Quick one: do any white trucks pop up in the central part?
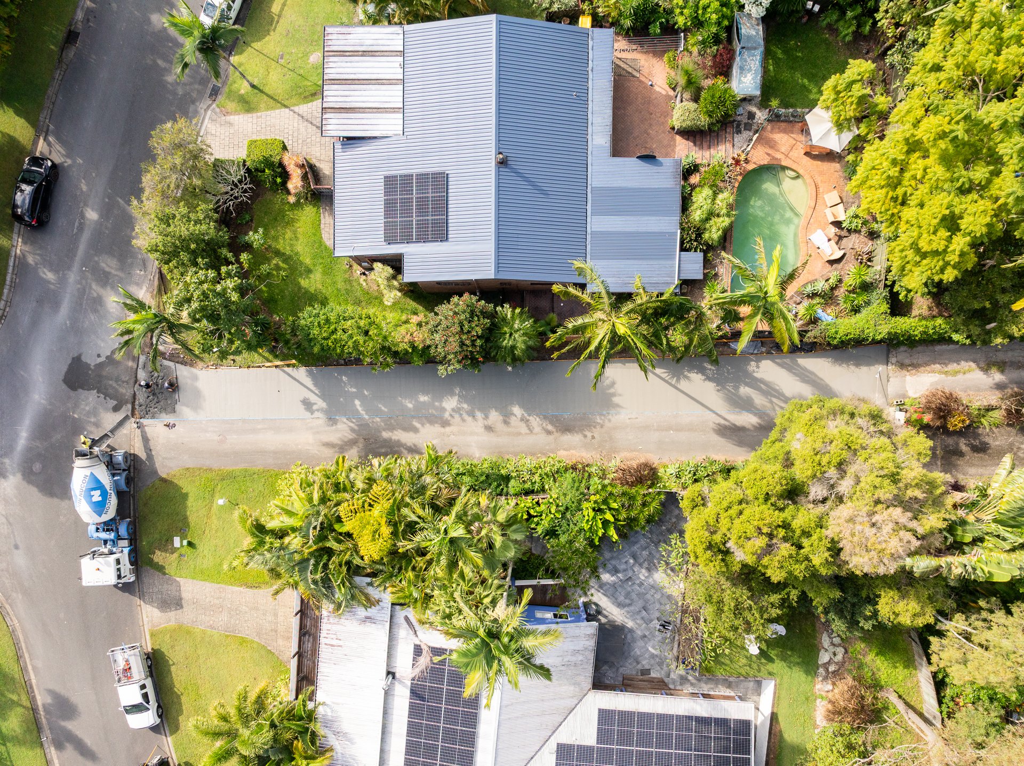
No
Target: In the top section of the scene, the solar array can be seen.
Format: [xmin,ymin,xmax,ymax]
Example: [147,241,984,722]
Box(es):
[381,170,448,241]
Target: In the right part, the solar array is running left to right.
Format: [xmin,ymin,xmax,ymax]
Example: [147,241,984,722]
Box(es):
[552,711,750,766]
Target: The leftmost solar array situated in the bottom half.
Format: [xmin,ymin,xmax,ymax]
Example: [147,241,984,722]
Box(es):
[403,644,481,766]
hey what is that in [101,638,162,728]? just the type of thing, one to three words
truck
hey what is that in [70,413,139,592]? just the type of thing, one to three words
truck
